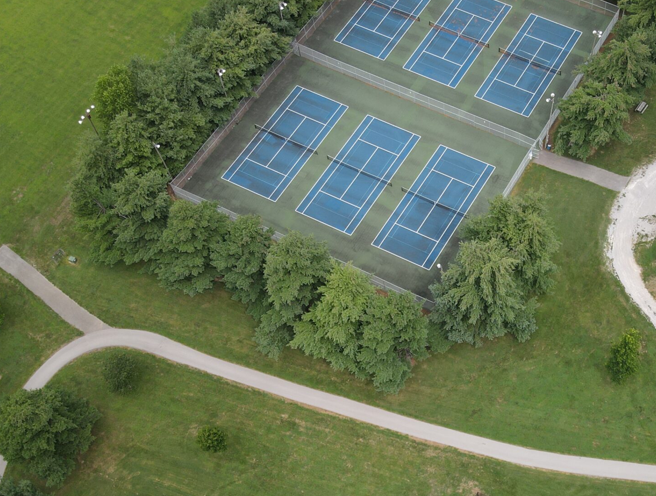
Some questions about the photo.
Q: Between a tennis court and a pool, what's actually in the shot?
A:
tennis court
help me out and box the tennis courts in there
[476,14,582,117]
[335,0,430,60]
[296,115,420,235]
[372,144,495,270]
[222,86,348,202]
[403,0,512,89]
